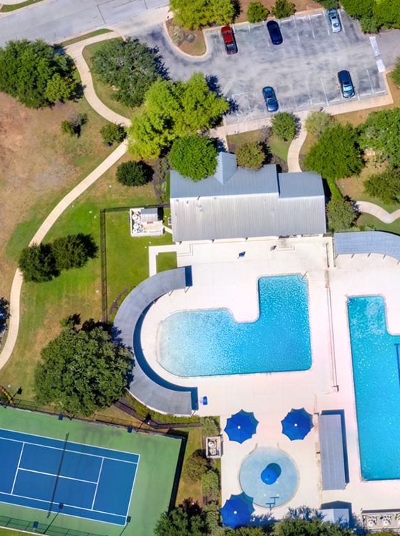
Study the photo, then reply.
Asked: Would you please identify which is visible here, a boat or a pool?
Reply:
pool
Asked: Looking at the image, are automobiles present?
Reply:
Yes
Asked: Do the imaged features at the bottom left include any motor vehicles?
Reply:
No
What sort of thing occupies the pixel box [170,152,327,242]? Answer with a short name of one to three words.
building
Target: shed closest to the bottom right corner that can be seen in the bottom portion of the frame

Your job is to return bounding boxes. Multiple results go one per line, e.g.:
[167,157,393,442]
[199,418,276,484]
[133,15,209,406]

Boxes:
[317,508,348,529]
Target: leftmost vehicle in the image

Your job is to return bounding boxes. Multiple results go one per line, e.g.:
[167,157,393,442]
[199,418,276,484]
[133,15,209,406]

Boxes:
[221,25,238,56]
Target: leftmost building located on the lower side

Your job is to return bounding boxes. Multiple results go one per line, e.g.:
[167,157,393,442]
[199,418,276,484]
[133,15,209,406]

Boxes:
[114,267,191,416]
